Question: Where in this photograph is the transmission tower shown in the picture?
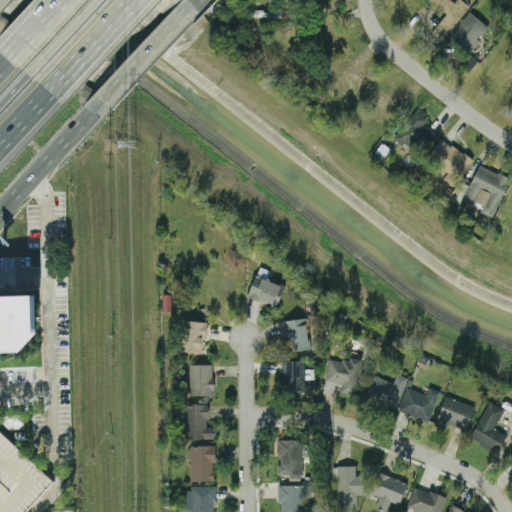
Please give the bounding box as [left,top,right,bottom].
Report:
[117,141,138,154]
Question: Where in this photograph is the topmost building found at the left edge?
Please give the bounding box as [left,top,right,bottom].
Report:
[0,294,40,354]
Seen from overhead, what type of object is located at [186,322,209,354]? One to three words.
house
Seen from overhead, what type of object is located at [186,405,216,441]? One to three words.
house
